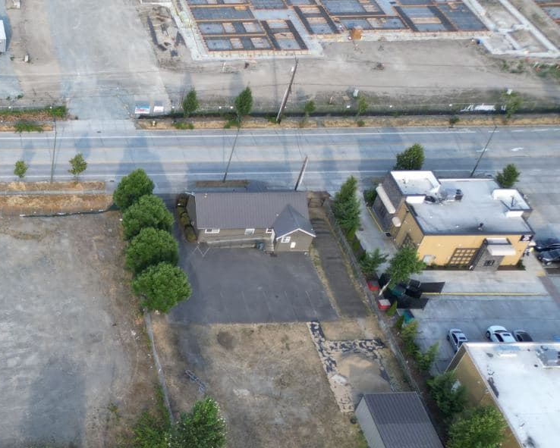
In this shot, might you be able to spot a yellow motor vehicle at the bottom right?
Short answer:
No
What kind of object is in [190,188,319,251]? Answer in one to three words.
building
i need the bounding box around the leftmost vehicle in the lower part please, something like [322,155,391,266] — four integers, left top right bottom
[439,331,466,359]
